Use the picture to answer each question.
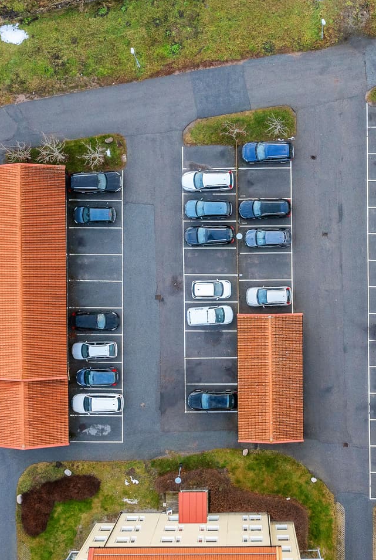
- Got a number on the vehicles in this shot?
16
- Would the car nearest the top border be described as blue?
Yes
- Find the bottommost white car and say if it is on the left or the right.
left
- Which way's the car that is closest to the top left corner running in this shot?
horizontally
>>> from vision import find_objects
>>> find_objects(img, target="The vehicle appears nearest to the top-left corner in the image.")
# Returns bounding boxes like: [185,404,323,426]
[69,171,122,195]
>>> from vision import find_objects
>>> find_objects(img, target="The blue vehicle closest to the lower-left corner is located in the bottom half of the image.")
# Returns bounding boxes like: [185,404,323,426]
[76,366,119,387]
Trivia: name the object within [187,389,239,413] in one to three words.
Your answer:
car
